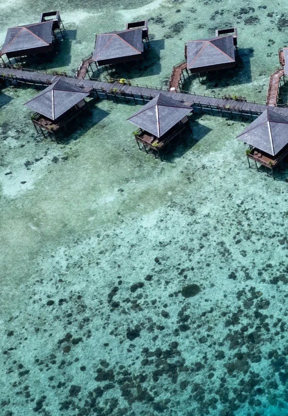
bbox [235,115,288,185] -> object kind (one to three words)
house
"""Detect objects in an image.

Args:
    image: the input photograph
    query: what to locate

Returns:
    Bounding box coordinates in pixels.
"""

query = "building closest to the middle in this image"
[123,99,192,166]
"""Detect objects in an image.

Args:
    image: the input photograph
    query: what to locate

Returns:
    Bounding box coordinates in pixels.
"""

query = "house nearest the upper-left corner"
[0,18,61,68]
